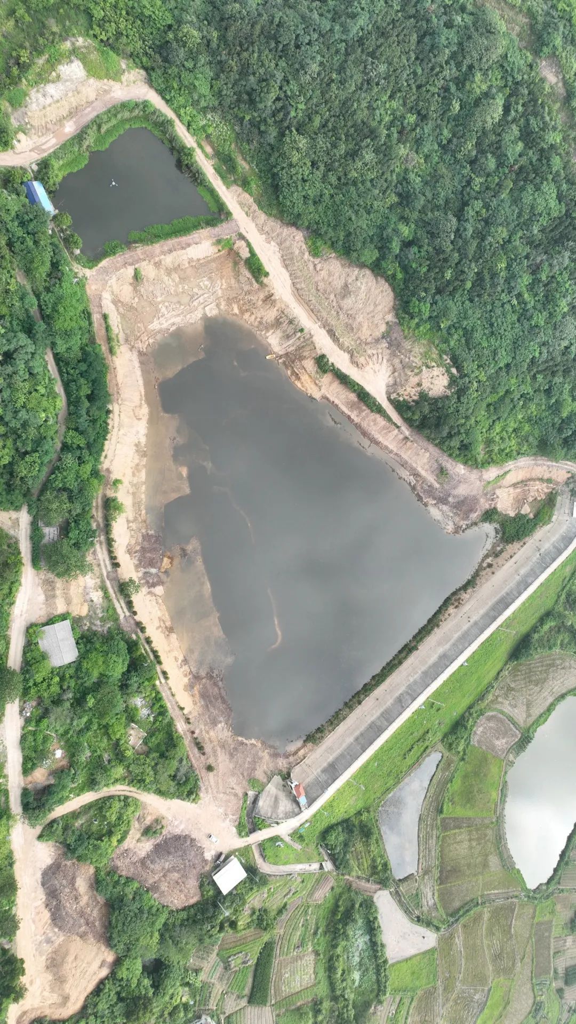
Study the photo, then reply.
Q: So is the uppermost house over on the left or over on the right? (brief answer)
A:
left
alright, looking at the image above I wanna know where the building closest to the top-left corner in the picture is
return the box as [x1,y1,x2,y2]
[23,181,53,218]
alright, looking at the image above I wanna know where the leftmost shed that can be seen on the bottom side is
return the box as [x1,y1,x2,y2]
[40,620,79,666]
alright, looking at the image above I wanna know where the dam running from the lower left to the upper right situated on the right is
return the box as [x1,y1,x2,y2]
[293,472,576,848]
